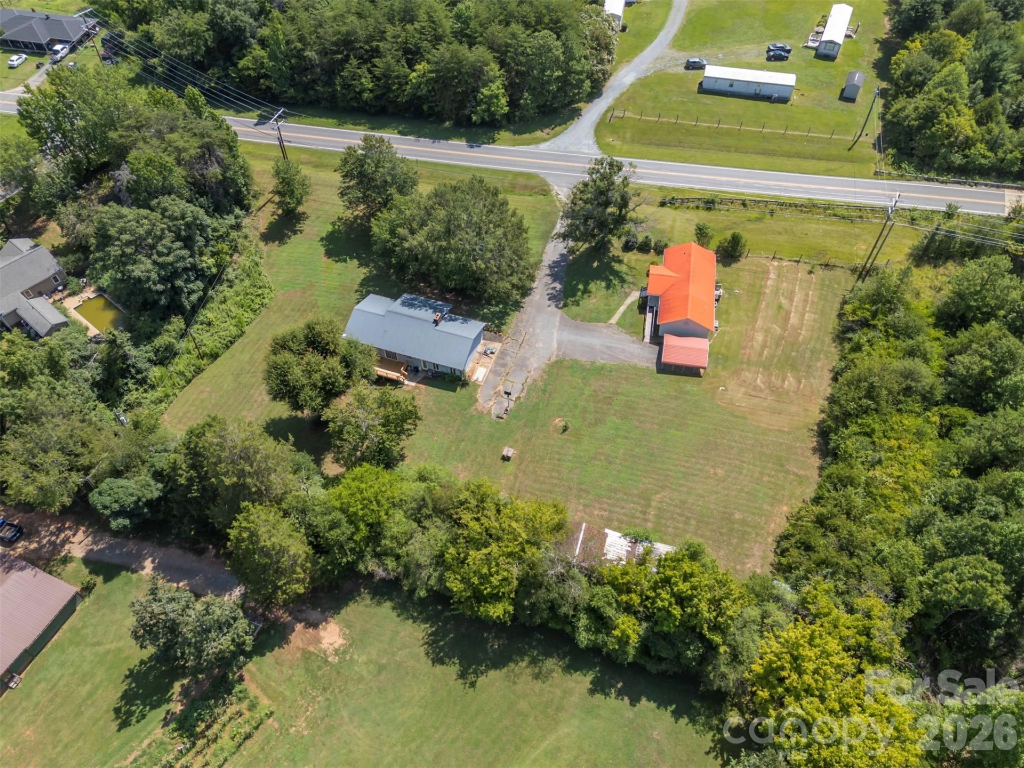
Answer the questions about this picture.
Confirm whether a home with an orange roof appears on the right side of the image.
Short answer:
Yes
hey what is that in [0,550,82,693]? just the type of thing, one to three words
barn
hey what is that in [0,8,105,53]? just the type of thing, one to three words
house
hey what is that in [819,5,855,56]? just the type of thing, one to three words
house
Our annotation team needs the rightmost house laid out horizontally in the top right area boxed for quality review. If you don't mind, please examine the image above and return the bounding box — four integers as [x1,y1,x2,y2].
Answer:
[702,68,794,97]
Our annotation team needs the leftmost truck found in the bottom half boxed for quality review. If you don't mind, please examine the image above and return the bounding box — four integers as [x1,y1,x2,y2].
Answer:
[0,518,26,549]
